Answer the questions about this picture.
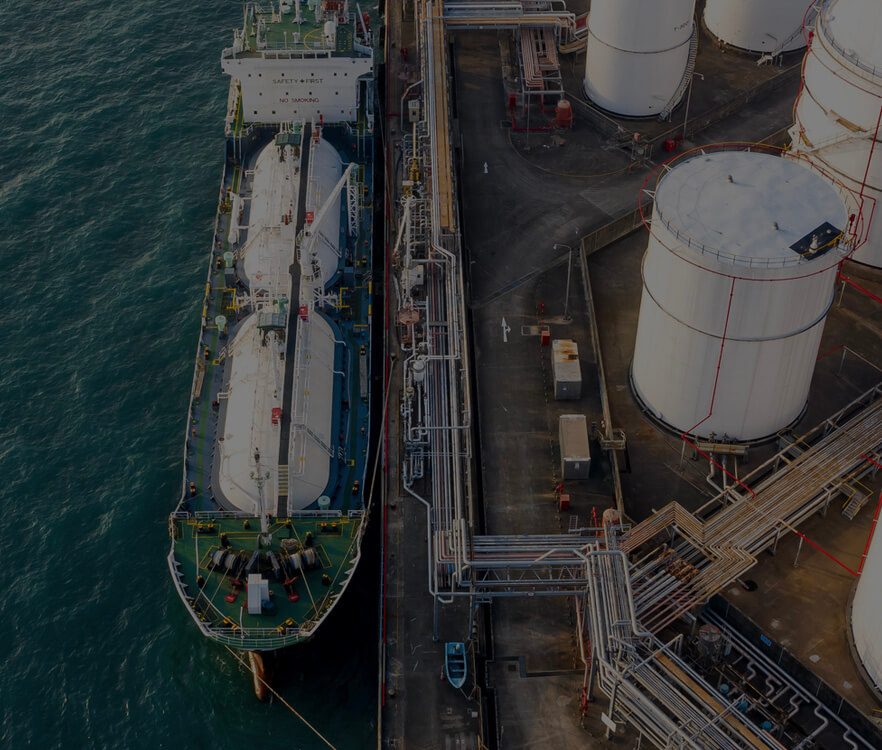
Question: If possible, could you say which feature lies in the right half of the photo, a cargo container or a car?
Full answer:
The feature located in the right half of the photo is a cargo container.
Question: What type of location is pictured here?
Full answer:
This image shows an industrial area.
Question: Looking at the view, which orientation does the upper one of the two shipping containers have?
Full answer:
The upper one of the two shipping containers is oriented from top to bottom.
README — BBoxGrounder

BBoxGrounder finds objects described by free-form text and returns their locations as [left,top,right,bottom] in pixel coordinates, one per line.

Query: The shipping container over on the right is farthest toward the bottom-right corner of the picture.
[559,415,591,479]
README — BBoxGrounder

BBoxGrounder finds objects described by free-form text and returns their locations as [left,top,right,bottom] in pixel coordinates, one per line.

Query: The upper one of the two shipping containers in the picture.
[550,339,580,399]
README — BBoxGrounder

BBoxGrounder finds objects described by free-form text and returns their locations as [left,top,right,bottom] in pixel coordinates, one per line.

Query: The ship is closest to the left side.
[167,0,376,706]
